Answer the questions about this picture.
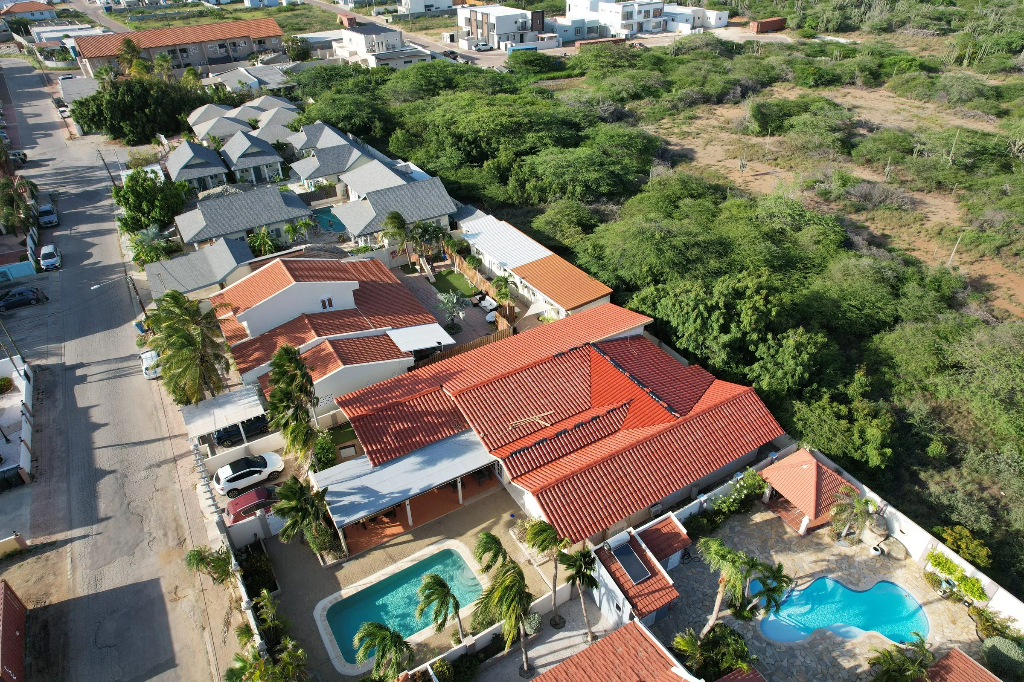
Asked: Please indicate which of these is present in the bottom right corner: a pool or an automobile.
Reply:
pool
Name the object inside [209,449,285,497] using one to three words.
car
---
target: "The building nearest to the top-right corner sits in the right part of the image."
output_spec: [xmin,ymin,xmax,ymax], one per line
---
[695,6,729,27]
